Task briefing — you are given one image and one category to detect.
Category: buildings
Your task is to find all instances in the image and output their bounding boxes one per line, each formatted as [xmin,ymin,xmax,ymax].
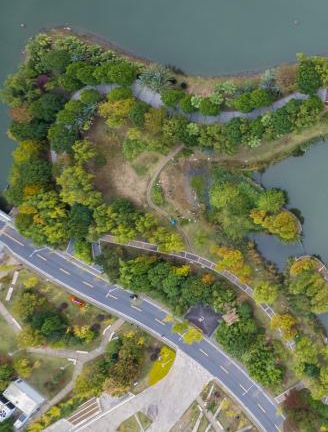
[3,378,48,432]
[185,303,223,338]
